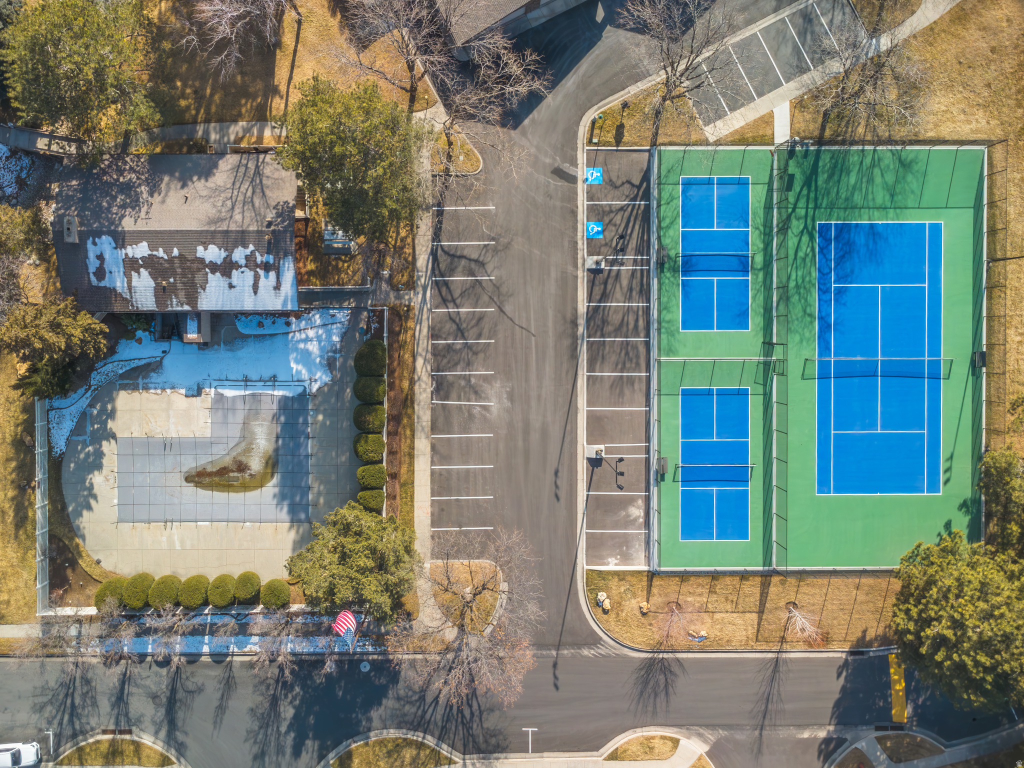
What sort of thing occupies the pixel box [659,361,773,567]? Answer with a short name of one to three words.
sports court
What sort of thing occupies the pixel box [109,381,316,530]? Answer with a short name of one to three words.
swimming pool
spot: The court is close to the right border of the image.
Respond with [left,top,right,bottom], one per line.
[776,148,986,567]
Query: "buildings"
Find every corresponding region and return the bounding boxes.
[52,152,300,342]
[441,0,581,50]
